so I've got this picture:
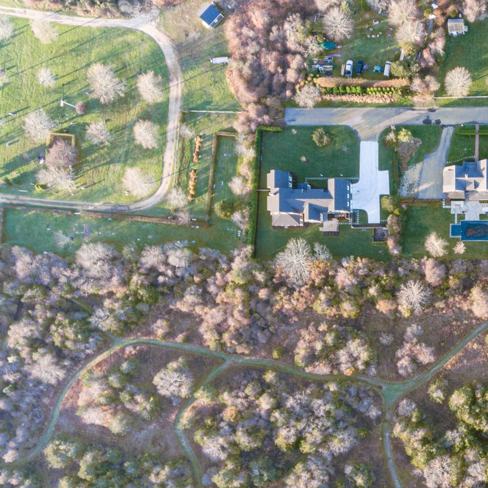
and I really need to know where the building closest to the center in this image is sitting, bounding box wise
[267,167,353,232]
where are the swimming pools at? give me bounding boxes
[462,221,488,240]
[451,224,462,236]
